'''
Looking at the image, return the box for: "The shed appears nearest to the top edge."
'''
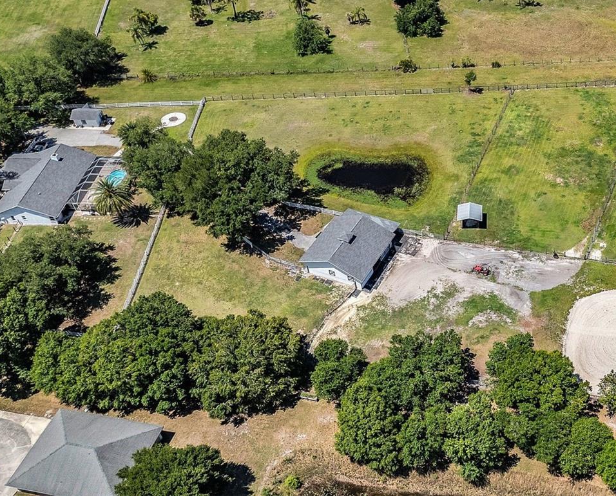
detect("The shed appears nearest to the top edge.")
[68,102,107,127]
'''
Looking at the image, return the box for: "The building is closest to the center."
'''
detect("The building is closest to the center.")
[299,208,405,290]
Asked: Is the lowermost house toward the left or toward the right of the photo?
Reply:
left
